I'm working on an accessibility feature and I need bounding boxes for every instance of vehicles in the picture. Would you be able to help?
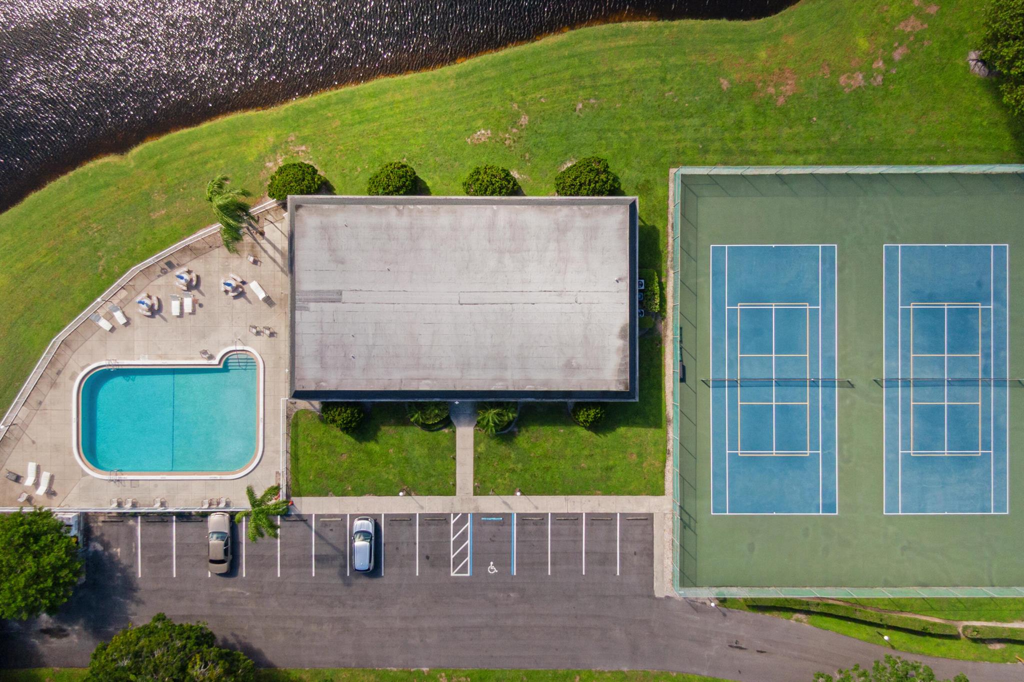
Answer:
[350,516,377,573]
[205,514,232,574]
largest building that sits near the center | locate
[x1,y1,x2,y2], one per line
[288,195,639,401]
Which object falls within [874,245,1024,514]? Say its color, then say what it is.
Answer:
blue tennis court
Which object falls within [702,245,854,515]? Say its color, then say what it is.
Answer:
blue tennis court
